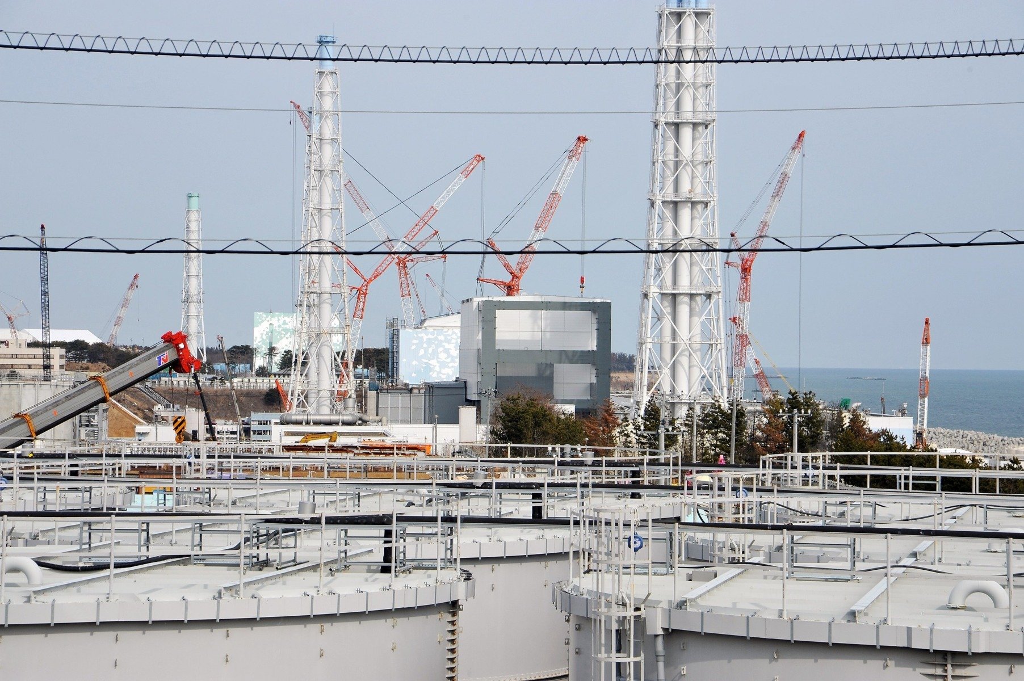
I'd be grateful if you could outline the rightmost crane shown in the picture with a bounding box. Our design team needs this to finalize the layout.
[915,318,930,452]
